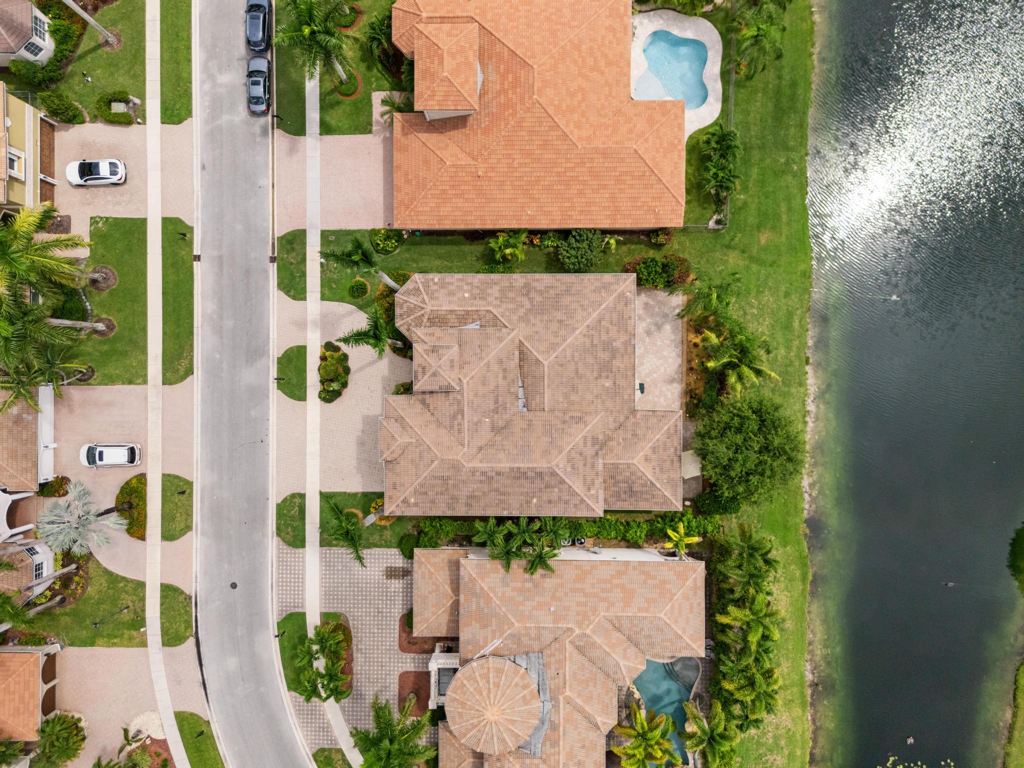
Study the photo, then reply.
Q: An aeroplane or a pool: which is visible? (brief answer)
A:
pool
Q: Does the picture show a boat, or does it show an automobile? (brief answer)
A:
automobile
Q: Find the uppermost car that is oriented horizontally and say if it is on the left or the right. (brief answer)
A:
left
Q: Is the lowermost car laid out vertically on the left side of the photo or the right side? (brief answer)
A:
left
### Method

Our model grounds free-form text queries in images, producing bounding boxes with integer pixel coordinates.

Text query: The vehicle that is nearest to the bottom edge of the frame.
[80,441,142,470]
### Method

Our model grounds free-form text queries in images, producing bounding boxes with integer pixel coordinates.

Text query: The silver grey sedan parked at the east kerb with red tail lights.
[244,58,273,118]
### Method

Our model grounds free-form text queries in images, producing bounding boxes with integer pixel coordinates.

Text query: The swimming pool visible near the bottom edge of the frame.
[631,656,702,768]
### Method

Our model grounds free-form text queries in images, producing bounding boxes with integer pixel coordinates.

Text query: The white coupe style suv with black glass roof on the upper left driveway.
[66,157,126,187]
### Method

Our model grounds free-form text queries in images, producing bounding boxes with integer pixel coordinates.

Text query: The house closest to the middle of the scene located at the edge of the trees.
[377,271,684,518]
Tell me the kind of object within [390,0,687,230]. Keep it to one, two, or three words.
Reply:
house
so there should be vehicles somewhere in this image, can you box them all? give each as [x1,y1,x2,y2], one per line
[80,441,142,470]
[66,157,126,187]
[243,0,274,58]
[244,58,273,118]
